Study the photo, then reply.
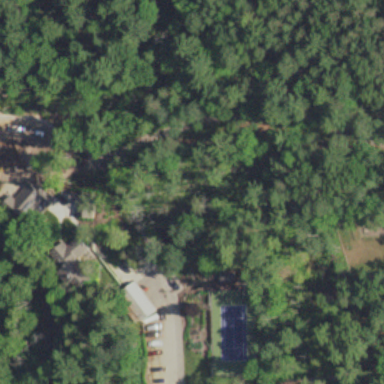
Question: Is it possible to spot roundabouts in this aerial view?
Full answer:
No, I can see no roundabout in this picture.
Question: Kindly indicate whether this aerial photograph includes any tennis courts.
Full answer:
Yes, there's a tennis court here.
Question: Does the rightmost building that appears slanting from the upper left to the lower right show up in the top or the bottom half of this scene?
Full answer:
The rightmost building that appears slanting from the upper left to the lower right is in the bottom half of the image.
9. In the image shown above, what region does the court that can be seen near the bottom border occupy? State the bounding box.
[210,292,254,373]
